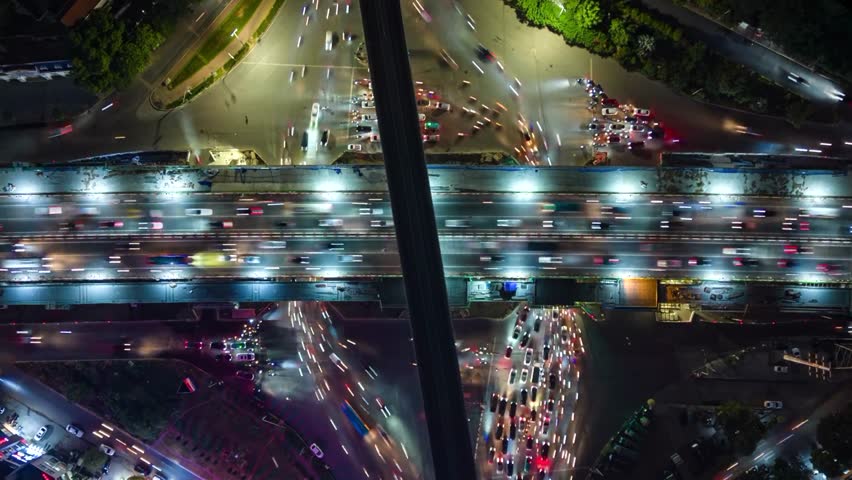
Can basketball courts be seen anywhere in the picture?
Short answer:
No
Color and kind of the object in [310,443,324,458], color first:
purple car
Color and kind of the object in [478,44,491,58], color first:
black vehicle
